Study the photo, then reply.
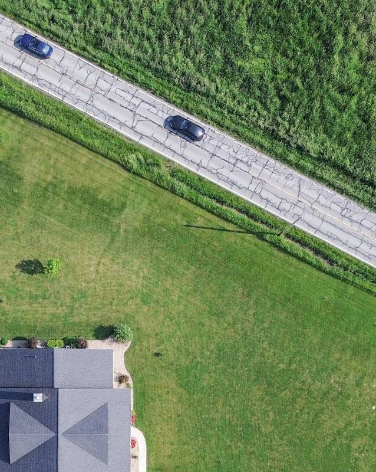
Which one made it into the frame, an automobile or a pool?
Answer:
automobile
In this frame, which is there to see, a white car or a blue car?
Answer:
blue car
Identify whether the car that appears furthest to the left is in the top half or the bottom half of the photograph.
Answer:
top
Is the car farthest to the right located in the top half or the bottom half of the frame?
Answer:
top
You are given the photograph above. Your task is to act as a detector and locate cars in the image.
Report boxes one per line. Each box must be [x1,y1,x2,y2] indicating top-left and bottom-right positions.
[20,34,55,61]
[169,116,205,143]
